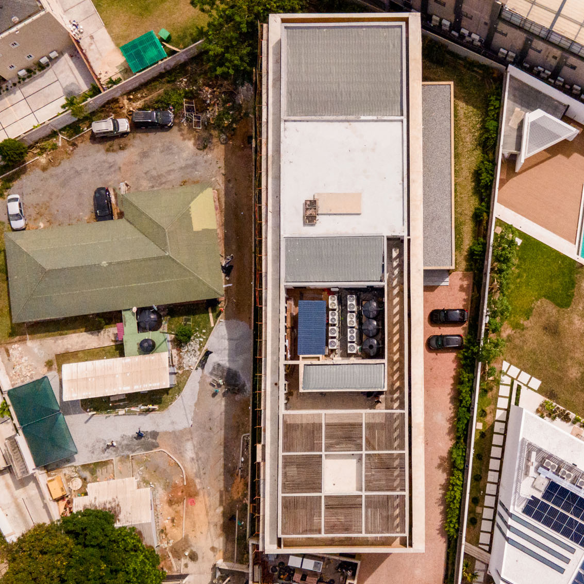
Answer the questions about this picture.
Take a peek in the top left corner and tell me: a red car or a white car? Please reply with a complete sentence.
The one visible in the top left corner is a white car.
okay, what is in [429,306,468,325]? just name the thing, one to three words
car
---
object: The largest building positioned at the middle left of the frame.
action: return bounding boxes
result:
[4,178,225,323]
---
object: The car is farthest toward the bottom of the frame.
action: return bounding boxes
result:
[426,332,465,351]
